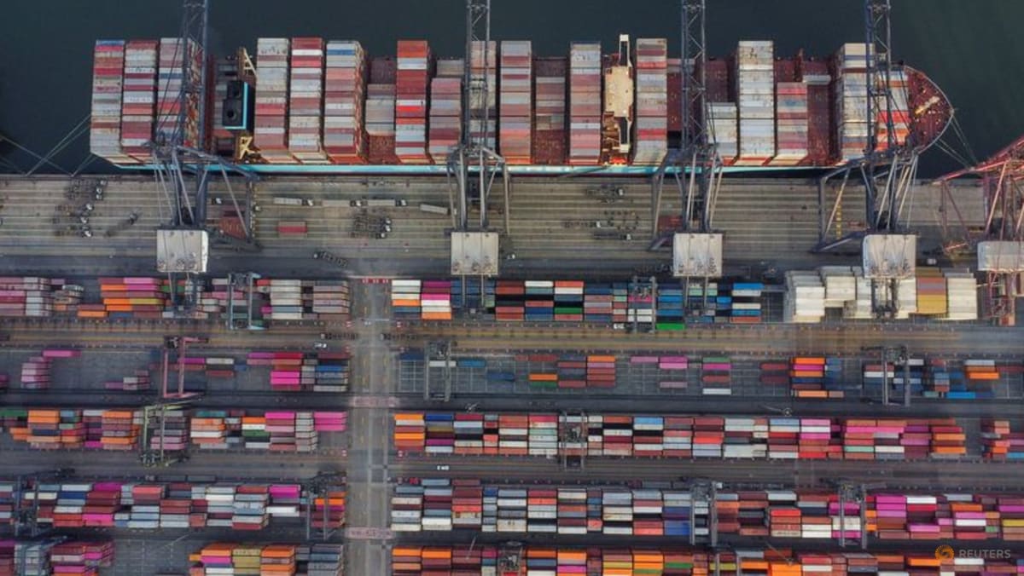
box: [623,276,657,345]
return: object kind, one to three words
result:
container crane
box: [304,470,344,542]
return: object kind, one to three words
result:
container crane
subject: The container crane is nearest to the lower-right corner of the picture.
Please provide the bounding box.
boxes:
[819,476,866,549]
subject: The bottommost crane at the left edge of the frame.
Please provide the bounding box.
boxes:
[19,532,74,576]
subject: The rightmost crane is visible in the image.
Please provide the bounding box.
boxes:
[922,137,1024,318]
